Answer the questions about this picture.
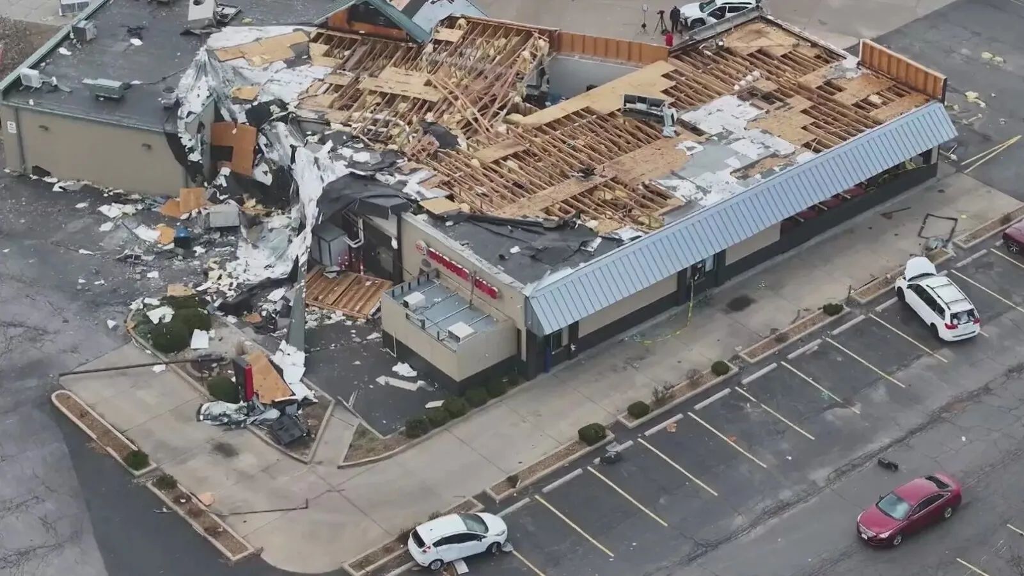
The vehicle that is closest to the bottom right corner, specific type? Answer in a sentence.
I'd say the vehicle that is closest to the bottom right corner is a car.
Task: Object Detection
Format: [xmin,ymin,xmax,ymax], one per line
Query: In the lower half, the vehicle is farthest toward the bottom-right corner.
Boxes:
[857,469,965,545]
